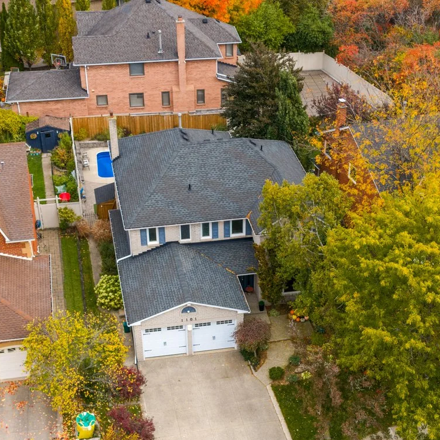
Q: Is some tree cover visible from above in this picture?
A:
Yes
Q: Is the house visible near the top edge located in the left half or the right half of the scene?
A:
left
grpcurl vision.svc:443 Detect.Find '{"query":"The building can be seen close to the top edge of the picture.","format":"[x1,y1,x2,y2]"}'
[5,0,244,123]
